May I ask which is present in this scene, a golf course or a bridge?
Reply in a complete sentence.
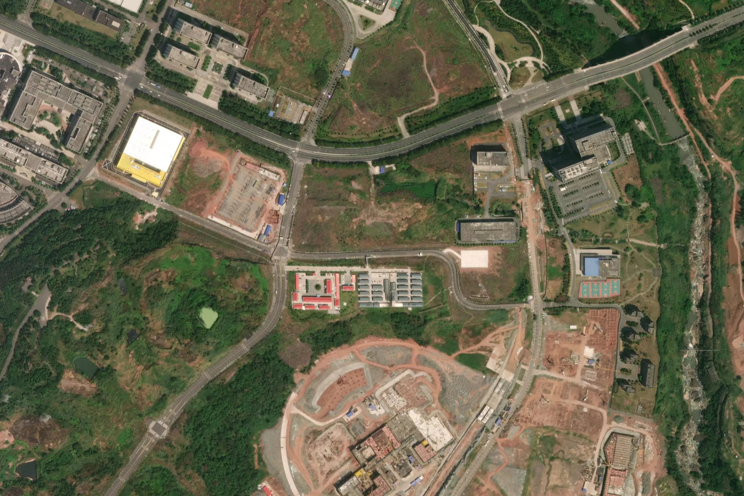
This aerial view contains a bridge.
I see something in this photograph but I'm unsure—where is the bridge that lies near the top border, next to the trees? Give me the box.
[539,23,697,99]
